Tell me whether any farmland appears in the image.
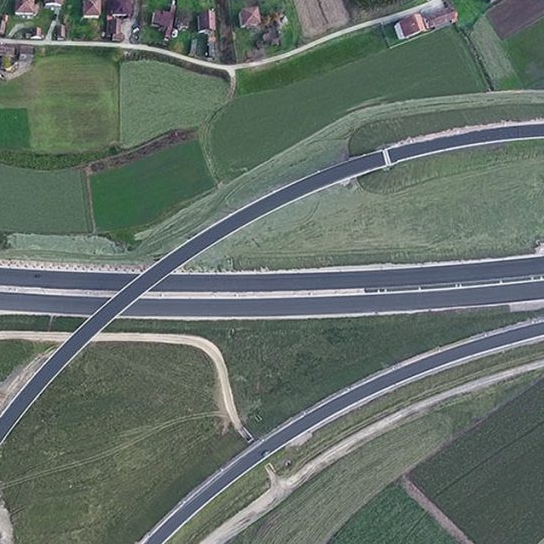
Yes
